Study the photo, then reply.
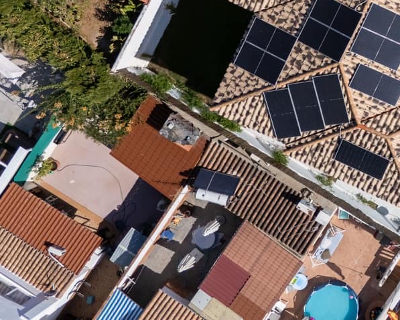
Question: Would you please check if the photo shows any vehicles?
No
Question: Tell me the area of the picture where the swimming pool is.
bottom right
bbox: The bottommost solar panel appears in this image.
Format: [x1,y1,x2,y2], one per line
[334,139,391,180]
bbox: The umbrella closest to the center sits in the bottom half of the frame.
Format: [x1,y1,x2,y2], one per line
[204,219,225,236]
